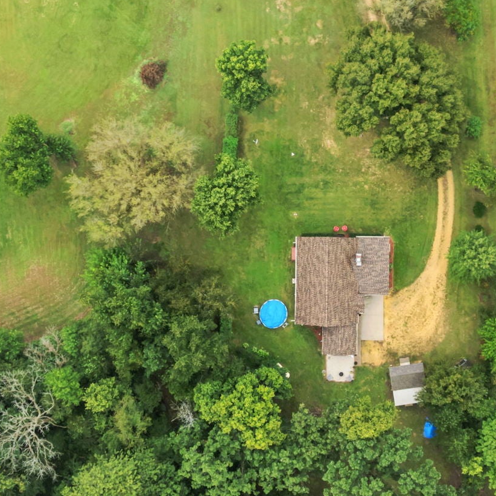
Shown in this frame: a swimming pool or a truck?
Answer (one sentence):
The one in the frame is a swimming pool.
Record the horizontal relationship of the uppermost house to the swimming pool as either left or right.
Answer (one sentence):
Relative to the swimming pool, the uppermost house lies to the right.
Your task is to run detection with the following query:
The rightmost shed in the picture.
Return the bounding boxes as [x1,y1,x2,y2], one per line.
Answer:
[390,364,427,403]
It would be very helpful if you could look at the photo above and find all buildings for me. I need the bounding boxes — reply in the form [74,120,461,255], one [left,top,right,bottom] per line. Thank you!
[294,238,391,356]
[390,364,427,403]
